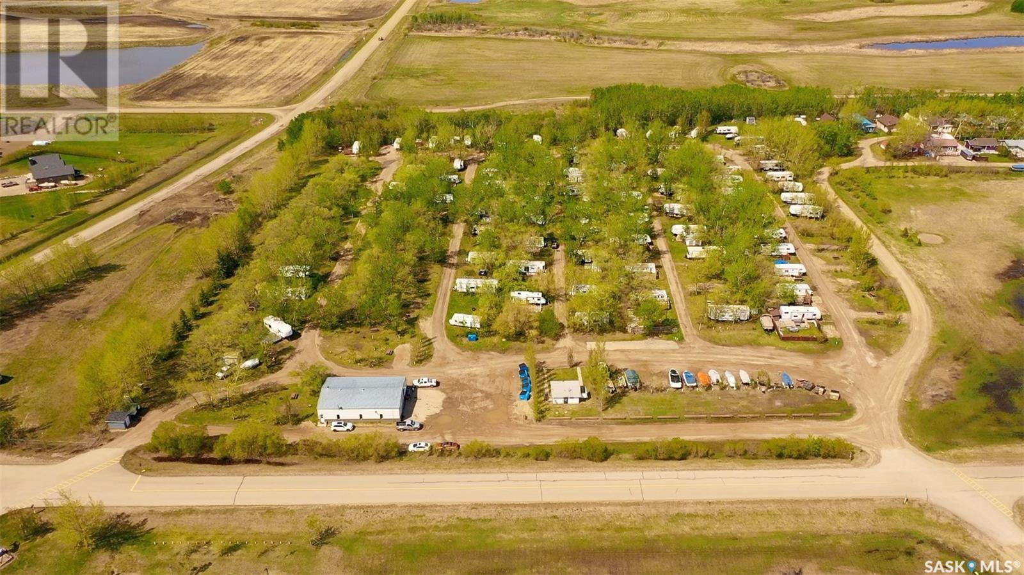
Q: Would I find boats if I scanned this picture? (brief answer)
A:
Yes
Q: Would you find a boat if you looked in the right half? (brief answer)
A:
Yes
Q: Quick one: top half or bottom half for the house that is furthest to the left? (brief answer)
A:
top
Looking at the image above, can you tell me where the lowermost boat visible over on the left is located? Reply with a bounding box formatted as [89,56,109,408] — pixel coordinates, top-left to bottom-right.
[235,360,264,372]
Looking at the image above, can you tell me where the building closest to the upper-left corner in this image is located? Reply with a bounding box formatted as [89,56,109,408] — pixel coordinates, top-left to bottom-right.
[30,156,88,184]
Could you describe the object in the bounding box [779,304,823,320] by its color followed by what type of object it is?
white vehicle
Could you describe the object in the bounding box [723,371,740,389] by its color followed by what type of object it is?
white boat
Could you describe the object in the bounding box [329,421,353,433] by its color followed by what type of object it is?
white vehicle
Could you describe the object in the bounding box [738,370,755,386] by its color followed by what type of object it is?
white boat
